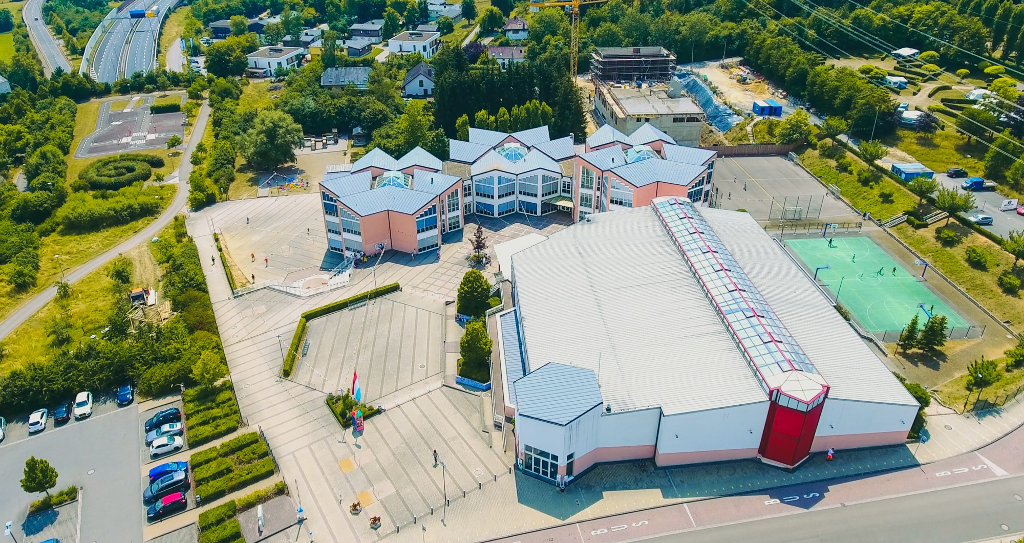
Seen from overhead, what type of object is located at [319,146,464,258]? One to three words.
building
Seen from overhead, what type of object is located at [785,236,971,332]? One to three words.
sports court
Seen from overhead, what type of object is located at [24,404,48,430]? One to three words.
car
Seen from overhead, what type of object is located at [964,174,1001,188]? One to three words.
vehicle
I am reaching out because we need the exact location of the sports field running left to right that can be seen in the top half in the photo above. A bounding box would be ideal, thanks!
[710,150,864,217]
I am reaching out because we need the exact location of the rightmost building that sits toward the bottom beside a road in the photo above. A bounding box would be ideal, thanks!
[510,195,923,486]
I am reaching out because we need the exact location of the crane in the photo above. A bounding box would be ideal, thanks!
[531,0,675,71]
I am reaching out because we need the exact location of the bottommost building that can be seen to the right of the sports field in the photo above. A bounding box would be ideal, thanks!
[889,163,935,185]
